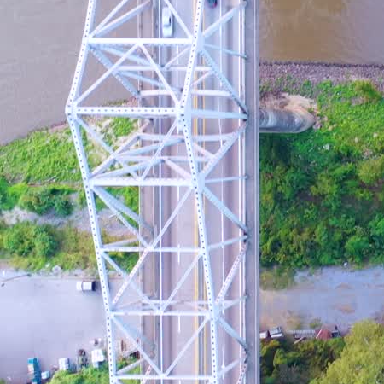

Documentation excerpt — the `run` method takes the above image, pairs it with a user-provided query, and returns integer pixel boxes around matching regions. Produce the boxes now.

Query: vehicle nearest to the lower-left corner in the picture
[20,355,41,384]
